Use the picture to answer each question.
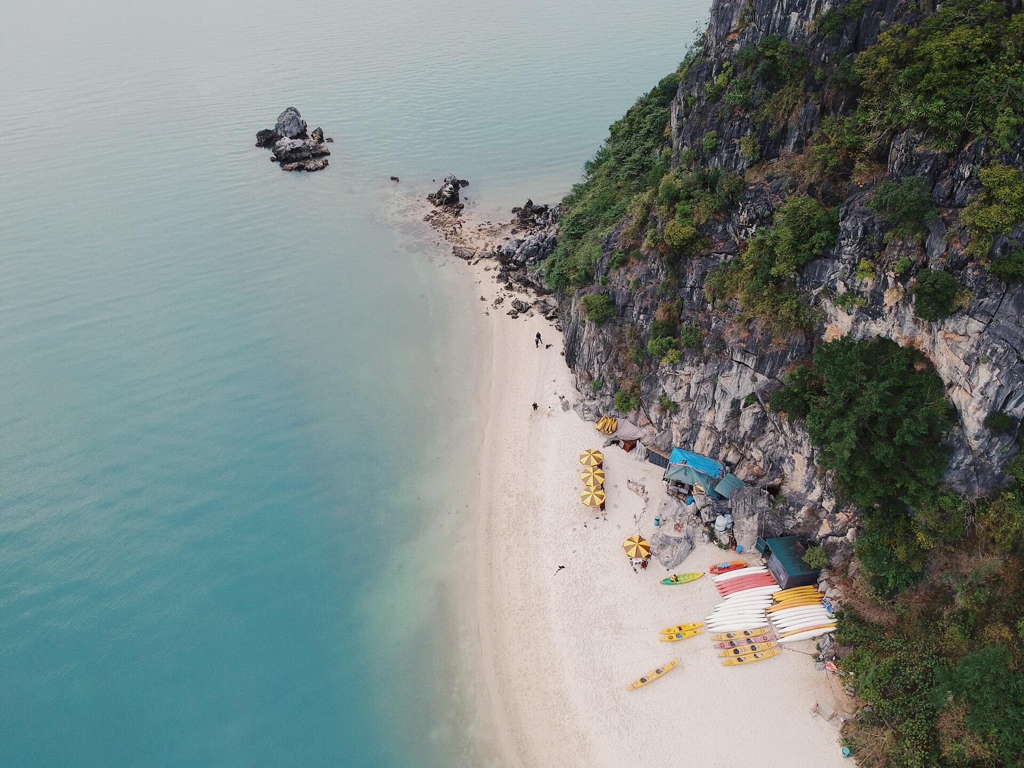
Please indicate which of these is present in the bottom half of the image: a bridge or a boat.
boat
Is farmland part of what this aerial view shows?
No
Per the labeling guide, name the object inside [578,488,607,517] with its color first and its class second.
yellow umbrella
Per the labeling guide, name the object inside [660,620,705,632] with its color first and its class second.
yellow boat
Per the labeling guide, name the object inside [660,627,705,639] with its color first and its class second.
yellow boat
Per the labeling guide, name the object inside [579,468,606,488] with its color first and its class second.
yellow umbrella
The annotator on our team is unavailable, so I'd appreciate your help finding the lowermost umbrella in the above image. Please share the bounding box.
[620,535,652,568]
